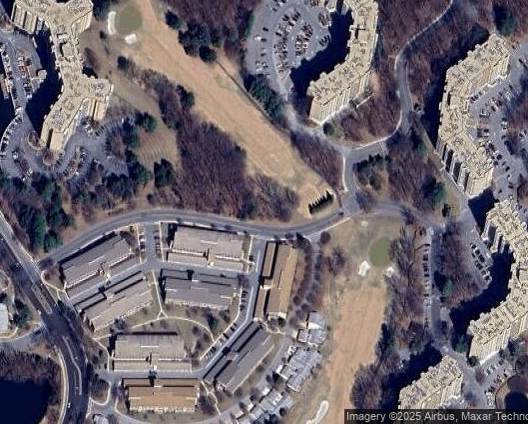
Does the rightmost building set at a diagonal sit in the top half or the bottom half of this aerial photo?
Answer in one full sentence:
The bottom half of the photo is where the rightmost building set at a diagonal is.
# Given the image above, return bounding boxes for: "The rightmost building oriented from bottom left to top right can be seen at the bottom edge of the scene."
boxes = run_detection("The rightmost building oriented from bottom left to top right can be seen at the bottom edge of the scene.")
[391,355,463,424]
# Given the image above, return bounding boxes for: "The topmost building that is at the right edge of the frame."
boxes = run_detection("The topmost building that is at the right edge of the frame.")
[435,33,511,197]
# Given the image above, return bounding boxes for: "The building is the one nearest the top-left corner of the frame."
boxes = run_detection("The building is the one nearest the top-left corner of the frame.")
[11,0,111,155]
